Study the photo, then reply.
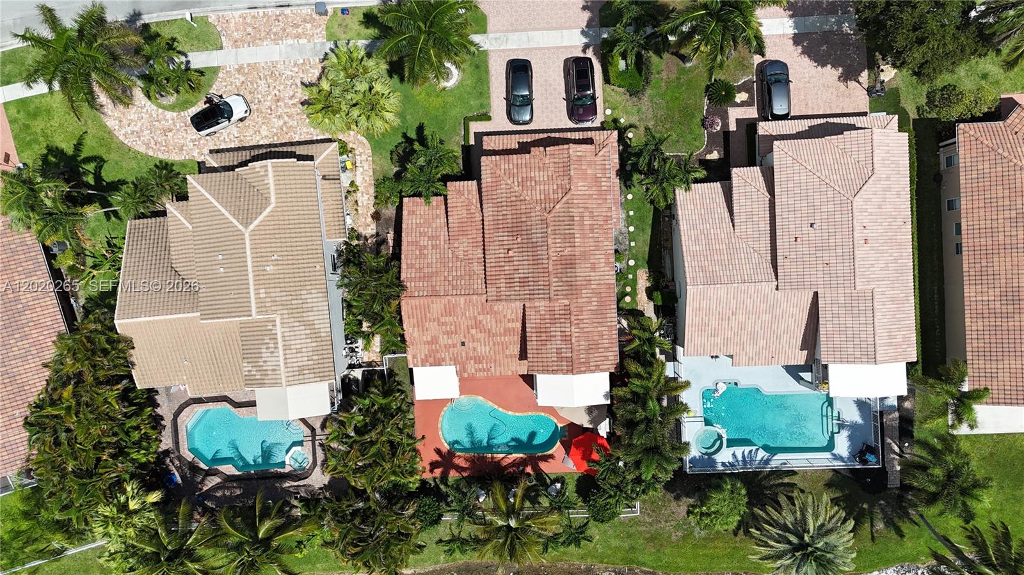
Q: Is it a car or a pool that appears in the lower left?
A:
pool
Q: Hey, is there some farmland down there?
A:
No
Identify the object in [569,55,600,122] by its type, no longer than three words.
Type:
car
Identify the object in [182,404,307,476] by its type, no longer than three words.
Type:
swimming pool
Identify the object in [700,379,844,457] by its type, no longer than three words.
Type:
swimming pool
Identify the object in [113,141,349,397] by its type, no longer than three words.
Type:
house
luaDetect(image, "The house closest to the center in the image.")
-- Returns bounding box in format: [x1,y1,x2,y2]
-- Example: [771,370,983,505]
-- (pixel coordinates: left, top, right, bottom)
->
[401,128,621,378]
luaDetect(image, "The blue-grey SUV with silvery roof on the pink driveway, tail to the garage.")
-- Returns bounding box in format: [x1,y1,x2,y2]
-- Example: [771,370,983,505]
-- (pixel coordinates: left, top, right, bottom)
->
[762,56,795,118]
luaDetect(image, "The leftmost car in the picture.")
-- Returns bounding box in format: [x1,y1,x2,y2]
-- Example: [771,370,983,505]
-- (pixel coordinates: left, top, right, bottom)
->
[187,90,249,135]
